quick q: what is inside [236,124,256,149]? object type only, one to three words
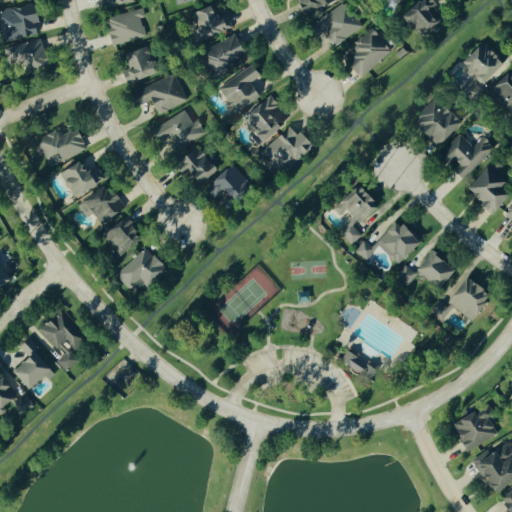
swimming pool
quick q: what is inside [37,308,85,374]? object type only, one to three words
house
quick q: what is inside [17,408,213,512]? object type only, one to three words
pond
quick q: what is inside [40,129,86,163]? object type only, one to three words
house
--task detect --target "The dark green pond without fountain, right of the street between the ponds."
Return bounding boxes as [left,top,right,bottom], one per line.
[265,454,421,512]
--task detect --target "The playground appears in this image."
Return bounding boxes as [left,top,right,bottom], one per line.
[282,308,323,334]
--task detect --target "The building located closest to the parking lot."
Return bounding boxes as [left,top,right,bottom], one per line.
[340,348,379,382]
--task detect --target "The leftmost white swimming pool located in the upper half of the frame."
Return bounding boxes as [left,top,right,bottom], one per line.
[50,172,74,206]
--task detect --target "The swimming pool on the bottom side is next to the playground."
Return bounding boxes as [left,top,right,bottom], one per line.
[338,301,418,371]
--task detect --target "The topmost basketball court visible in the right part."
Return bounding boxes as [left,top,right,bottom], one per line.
[292,261,327,280]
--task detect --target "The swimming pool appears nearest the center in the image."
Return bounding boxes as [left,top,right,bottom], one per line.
[326,209,351,233]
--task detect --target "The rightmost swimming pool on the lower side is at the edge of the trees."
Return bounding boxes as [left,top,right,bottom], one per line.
[447,310,470,332]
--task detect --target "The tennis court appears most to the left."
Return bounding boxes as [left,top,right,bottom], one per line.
[210,264,280,334]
